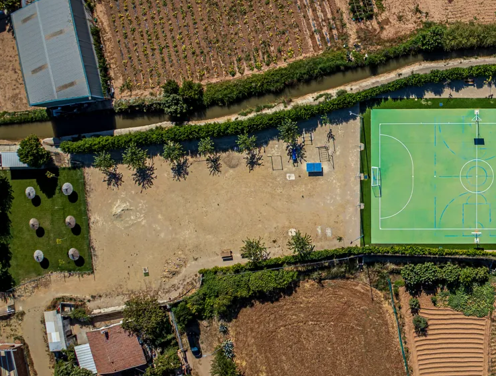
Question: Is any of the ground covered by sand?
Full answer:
Yes, sand can be seen from above here.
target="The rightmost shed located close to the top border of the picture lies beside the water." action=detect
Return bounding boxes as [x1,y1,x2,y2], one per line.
[10,0,104,107]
